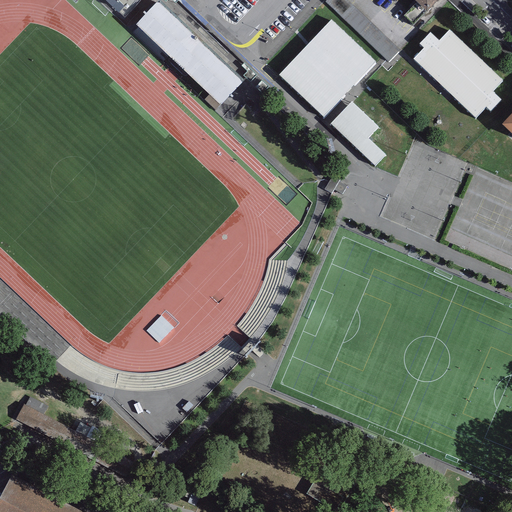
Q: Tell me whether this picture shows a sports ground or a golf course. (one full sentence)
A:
The picture captures a sports ground.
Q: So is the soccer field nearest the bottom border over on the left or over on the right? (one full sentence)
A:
It is on the right.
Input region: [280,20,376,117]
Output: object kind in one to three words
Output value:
building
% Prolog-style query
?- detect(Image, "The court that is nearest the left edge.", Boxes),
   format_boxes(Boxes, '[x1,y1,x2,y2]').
[384,141,466,240]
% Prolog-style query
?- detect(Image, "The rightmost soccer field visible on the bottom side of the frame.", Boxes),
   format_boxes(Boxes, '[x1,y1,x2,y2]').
[274,225,512,488]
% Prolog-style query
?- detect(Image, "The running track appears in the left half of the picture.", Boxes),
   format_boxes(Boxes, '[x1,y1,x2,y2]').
[0,0,300,372]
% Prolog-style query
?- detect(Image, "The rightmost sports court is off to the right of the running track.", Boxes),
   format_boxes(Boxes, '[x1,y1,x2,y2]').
[446,164,512,270]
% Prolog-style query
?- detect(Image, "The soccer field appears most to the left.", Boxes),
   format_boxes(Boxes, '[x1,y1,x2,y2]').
[0,22,238,342]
